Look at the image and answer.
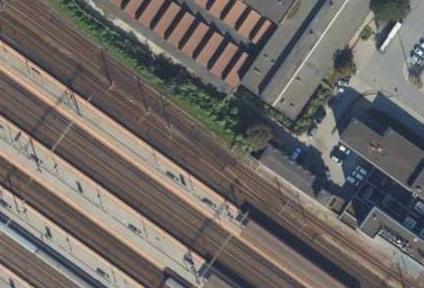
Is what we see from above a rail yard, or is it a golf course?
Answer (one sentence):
What you see here is a rail yard.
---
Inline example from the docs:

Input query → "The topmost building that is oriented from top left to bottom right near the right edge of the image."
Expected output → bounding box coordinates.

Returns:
[340,117,424,190]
